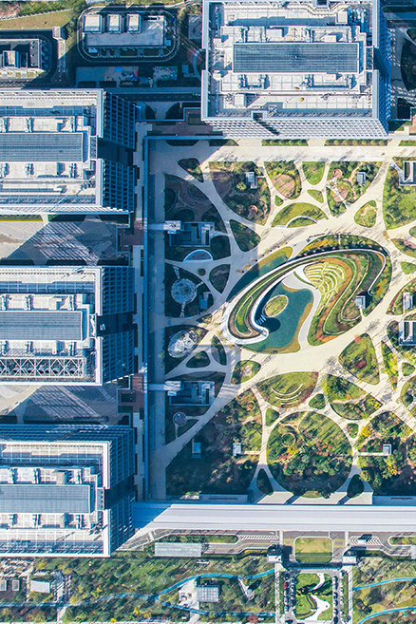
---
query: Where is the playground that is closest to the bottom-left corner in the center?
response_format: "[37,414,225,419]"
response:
[167,329,199,358]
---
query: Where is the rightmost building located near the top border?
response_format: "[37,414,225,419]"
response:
[202,0,387,136]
